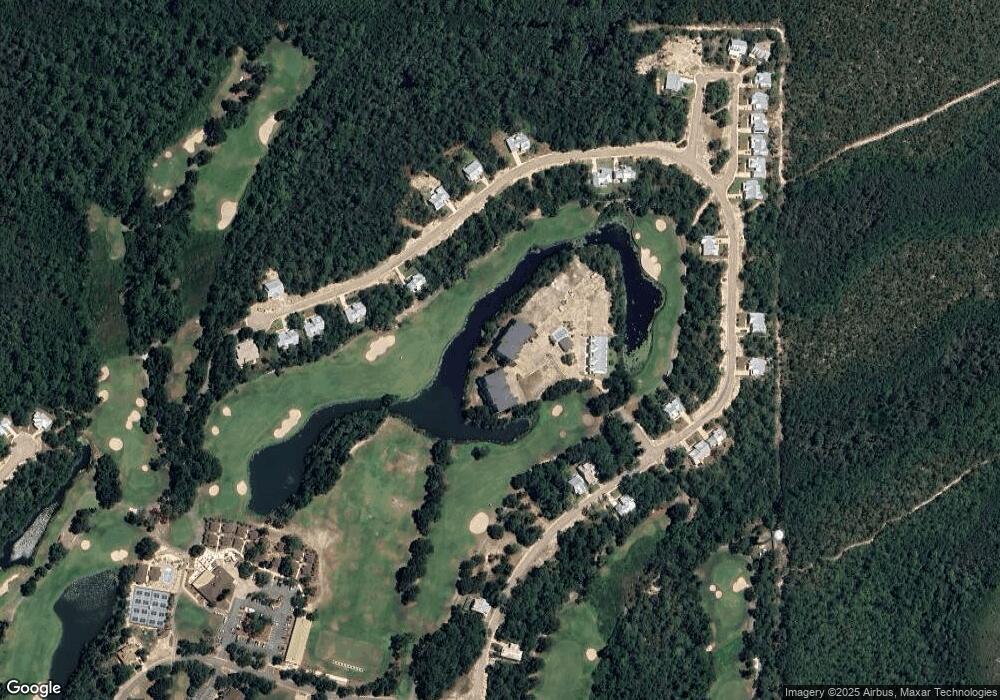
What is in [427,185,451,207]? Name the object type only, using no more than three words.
house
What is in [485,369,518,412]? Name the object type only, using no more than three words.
building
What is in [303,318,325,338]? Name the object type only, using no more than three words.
house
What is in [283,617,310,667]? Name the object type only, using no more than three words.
barn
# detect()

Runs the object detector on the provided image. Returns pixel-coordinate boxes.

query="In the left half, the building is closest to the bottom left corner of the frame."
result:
[116,641,139,668]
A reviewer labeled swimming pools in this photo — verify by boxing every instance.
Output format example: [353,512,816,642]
[160,566,177,586]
